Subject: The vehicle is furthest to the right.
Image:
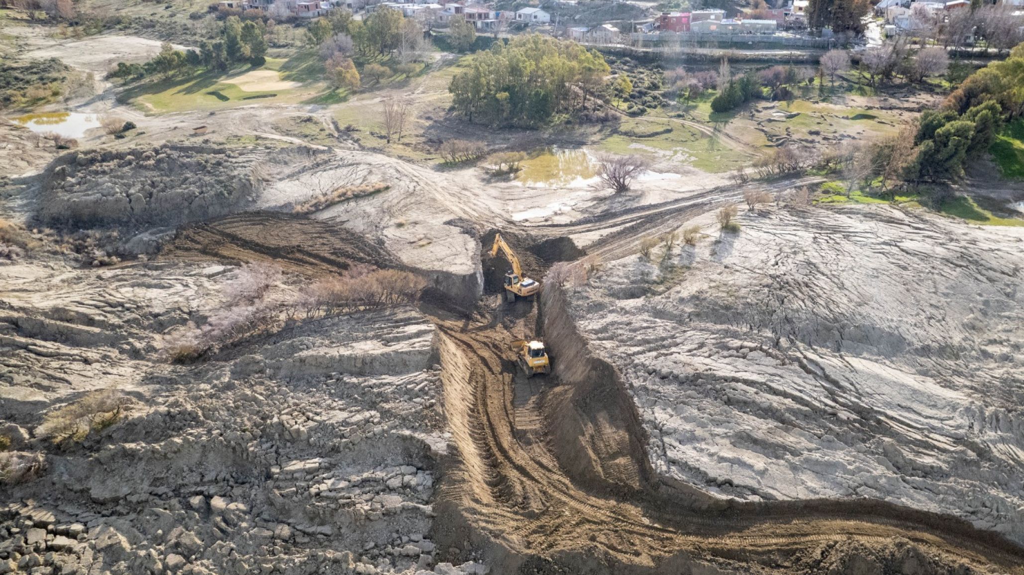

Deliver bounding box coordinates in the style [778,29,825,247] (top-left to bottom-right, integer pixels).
[876,20,899,35]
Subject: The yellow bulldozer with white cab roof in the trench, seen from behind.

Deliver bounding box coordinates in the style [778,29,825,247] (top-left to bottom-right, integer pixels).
[510,335,550,376]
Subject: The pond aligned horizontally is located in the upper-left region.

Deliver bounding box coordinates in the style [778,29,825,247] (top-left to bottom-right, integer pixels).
[7,111,105,141]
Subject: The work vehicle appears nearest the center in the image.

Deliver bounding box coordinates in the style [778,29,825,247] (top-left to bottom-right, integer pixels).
[489,234,539,305]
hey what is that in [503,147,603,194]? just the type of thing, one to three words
pond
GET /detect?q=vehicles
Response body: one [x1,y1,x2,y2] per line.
[876,20,899,35]
[510,335,550,376]
[489,234,539,305]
